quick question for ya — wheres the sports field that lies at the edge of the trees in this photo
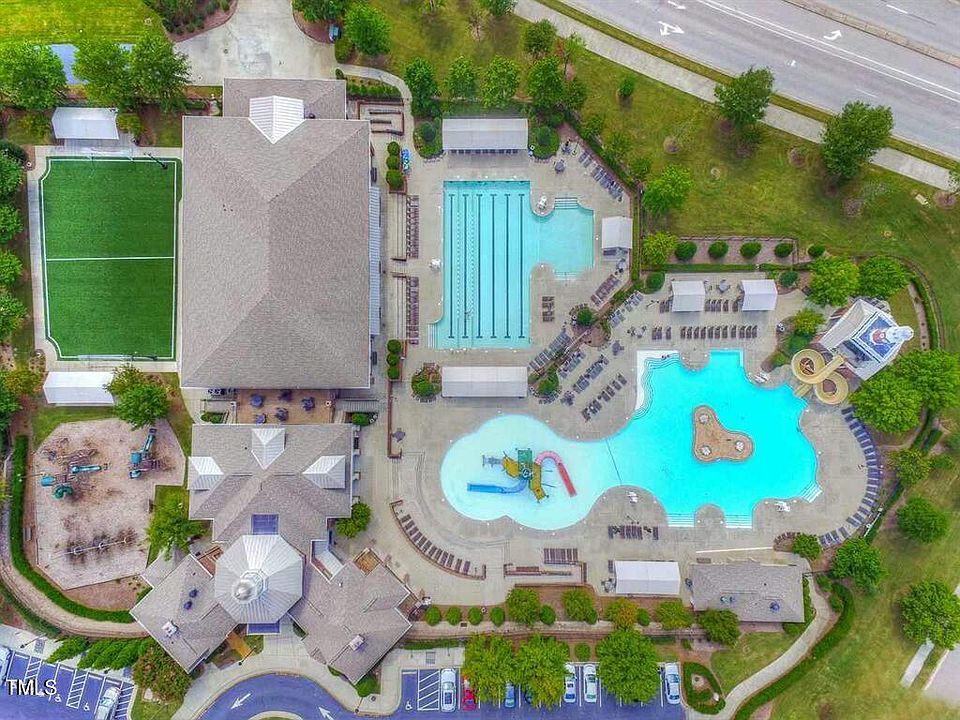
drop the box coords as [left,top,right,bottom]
[39,157,180,359]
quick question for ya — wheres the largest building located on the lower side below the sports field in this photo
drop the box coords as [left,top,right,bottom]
[129,423,412,685]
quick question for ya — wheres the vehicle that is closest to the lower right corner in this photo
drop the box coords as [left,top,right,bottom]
[663,663,682,705]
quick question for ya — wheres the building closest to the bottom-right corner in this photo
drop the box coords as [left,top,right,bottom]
[687,562,809,622]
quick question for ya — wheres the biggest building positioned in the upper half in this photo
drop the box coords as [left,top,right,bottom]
[179,79,382,389]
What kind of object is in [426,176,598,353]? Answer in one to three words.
swimming pool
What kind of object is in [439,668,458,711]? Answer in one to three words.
car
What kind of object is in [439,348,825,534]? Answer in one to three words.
swimming pool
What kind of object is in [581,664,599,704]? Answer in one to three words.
car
